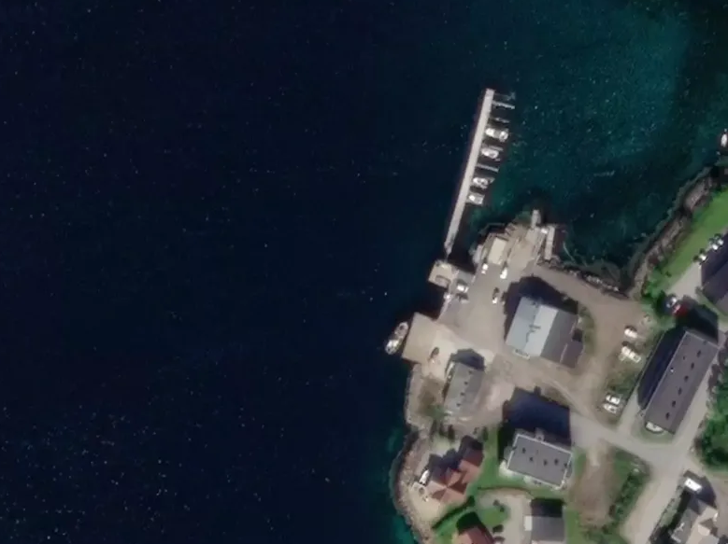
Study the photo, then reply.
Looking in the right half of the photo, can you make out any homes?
Yes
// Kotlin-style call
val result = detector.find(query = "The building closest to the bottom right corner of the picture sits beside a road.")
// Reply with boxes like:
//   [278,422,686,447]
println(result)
[666,500,724,544]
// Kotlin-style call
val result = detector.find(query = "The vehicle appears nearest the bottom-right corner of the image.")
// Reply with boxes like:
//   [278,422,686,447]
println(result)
[683,478,703,493]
